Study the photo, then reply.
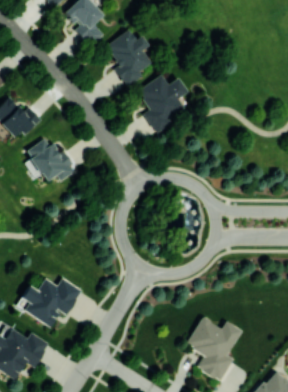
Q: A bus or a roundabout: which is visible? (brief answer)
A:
roundabout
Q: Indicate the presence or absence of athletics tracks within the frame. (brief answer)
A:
No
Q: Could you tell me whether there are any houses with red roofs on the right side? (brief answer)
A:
No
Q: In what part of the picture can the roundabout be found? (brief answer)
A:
center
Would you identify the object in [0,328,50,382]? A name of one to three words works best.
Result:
house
